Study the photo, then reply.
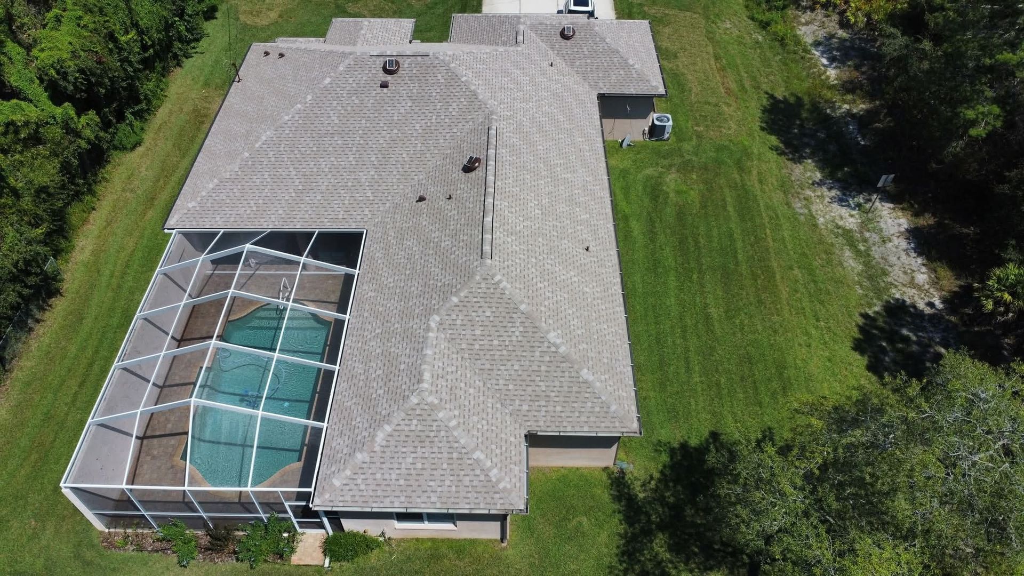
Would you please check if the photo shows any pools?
Yes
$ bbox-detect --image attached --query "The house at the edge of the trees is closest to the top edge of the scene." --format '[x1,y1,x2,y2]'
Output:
[161,14,666,544]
